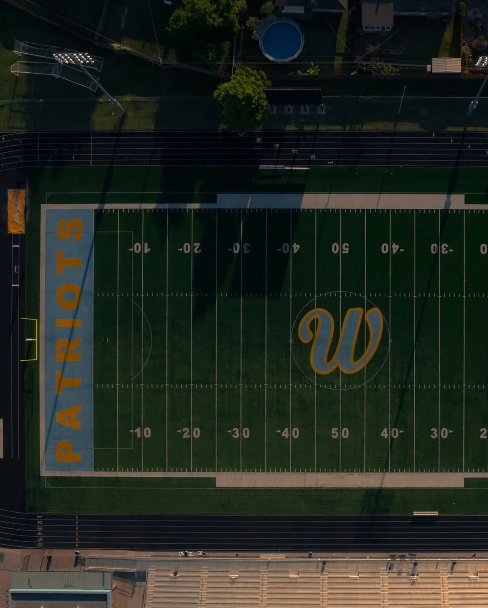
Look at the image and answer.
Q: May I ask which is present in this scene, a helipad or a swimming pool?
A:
swimming pool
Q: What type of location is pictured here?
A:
sports ground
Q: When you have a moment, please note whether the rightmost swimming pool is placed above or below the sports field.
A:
above it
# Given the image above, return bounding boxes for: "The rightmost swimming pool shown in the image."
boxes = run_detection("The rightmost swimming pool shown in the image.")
[257,13,304,63]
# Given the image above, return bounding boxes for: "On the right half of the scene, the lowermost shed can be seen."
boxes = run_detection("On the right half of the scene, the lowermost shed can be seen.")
[431,57,460,74]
